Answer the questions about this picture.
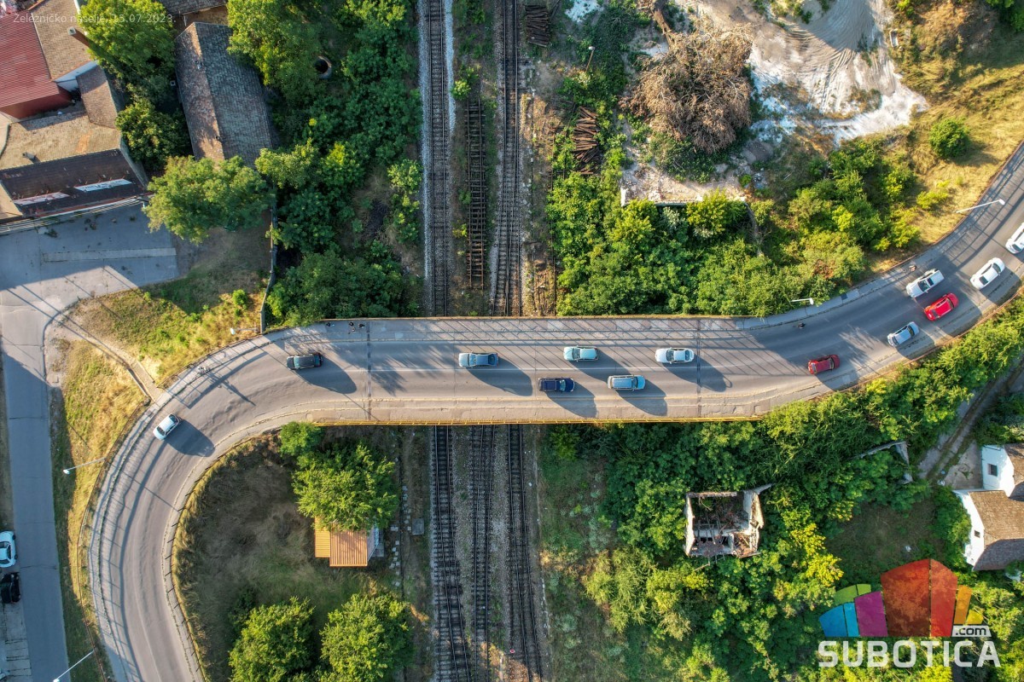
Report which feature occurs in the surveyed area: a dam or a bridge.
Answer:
bridge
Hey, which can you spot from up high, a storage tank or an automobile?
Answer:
automobile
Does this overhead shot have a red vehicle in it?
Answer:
Yes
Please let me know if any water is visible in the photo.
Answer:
No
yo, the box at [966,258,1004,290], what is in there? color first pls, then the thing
white car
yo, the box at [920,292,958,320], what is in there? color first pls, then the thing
red car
